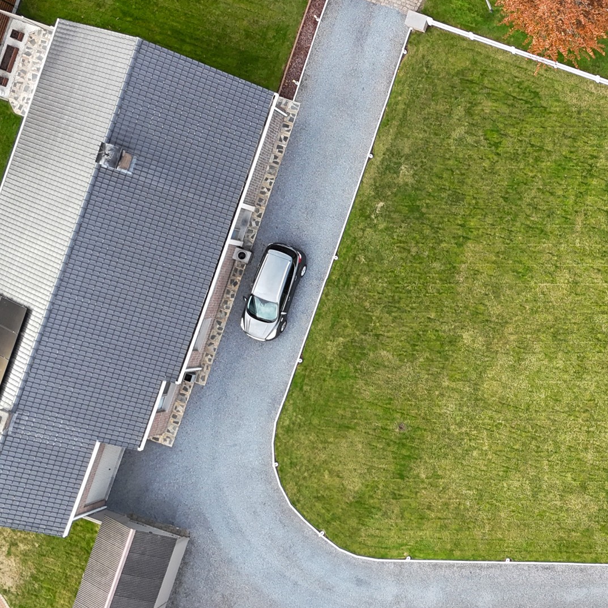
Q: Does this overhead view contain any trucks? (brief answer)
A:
No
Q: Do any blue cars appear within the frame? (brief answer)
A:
No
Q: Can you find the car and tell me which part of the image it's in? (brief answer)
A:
center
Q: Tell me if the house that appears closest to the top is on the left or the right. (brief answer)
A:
left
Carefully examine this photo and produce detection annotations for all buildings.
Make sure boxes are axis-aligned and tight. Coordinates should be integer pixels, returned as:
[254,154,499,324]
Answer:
[73,515,188,608]
[0,17,286,541]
